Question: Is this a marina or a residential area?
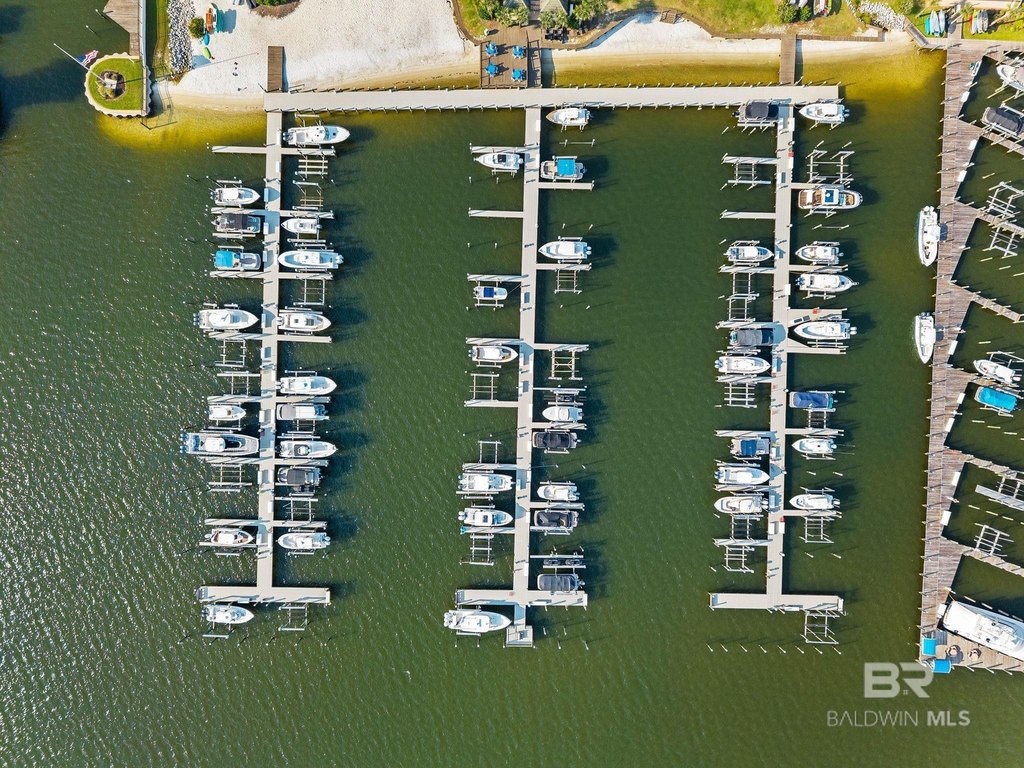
marina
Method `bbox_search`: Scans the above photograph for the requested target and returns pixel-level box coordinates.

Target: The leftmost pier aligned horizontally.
[264,82,838,115]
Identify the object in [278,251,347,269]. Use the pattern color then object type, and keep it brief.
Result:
white boat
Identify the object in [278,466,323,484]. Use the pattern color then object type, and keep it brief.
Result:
gray boat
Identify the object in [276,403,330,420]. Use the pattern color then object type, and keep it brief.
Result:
white boat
